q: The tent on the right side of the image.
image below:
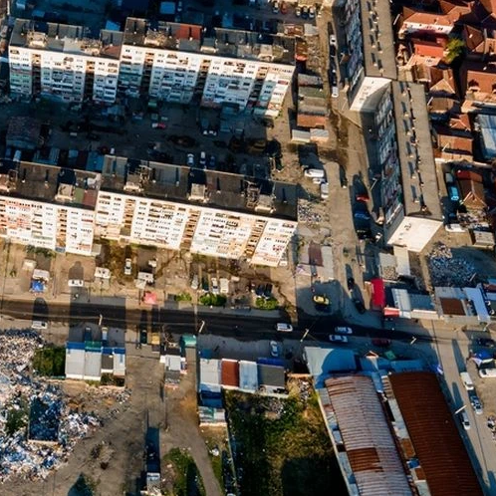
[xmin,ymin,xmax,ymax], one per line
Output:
[469,347,496,367]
